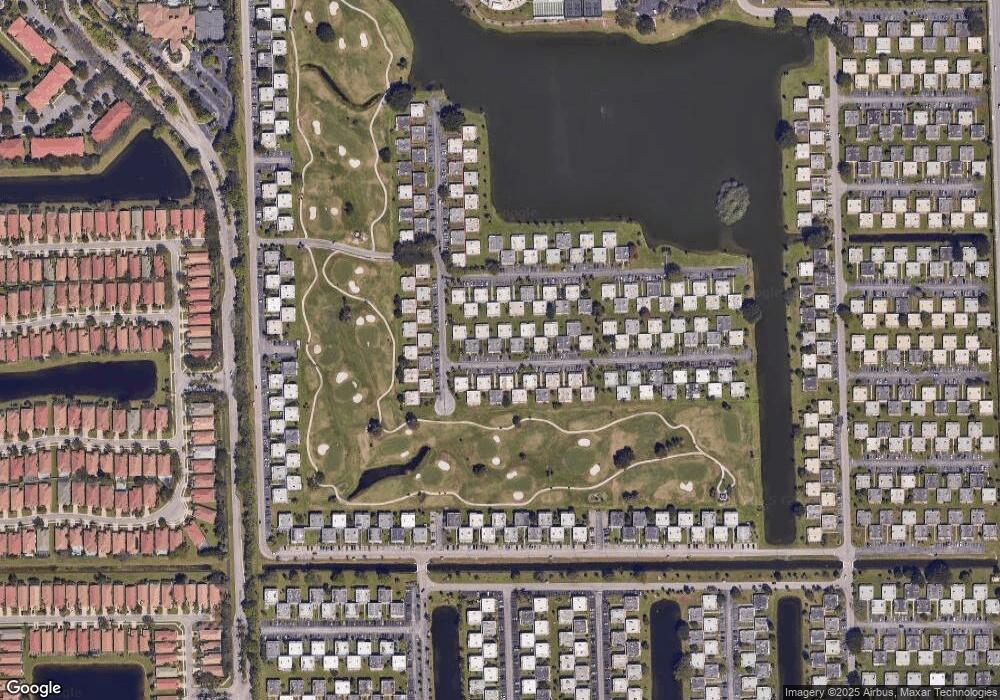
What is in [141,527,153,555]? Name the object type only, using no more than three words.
house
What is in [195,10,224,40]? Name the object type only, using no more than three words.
tennis court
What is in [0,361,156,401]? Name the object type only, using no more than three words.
pond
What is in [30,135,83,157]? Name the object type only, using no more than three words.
building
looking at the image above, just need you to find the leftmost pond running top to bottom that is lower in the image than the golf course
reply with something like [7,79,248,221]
[433,606,461,700]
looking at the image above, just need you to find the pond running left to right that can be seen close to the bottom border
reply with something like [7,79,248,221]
[31,664,146,700]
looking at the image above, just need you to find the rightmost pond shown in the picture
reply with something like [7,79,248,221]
[777,597,806,700]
